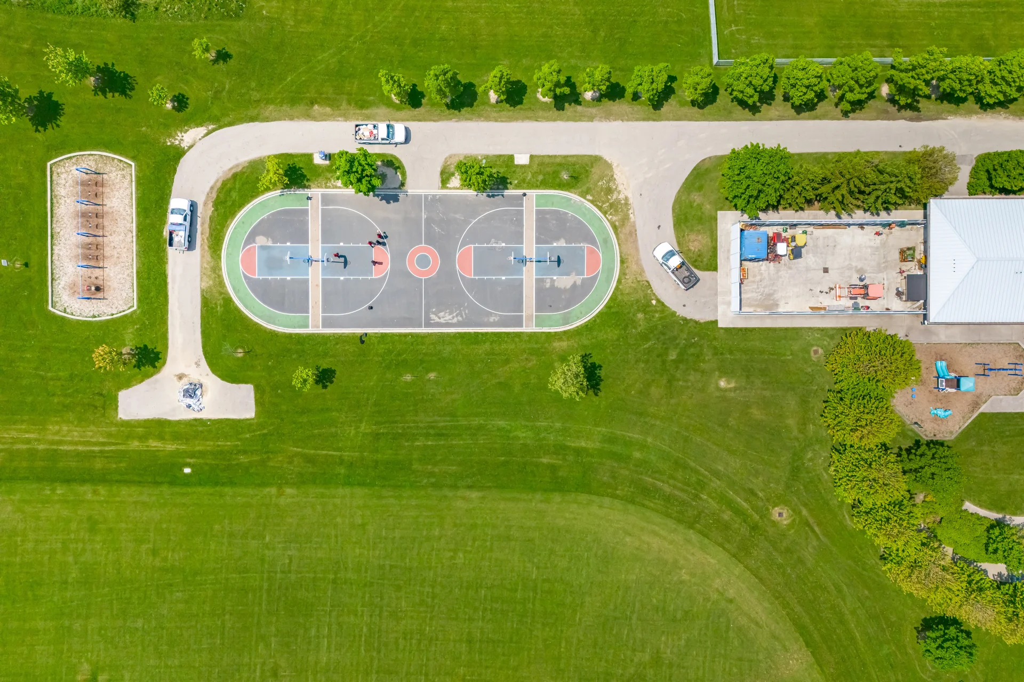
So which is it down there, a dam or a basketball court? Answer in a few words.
basketball court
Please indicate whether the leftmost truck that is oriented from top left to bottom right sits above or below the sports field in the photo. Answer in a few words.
above it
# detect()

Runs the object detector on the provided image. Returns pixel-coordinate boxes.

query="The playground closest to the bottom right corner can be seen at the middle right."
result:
[890,342,1024,439]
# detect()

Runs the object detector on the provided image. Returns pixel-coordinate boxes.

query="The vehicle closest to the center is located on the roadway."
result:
[653,242,699,291]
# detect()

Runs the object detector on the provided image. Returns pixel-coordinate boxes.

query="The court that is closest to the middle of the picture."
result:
[221,189,620,332]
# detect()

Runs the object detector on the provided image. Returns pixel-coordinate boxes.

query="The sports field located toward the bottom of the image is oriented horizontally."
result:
[0,483,821,682]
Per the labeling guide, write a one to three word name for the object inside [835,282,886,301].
work vehicle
